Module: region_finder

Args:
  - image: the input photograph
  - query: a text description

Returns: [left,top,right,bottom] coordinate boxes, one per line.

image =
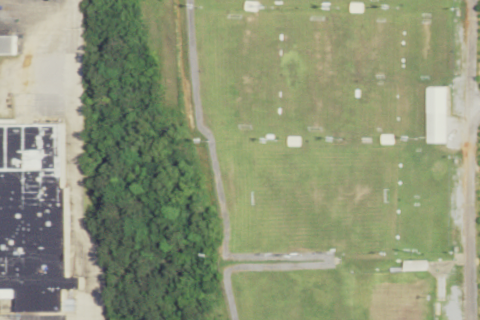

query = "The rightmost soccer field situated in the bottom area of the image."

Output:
[402,153,448,247]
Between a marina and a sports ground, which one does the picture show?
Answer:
sports ground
